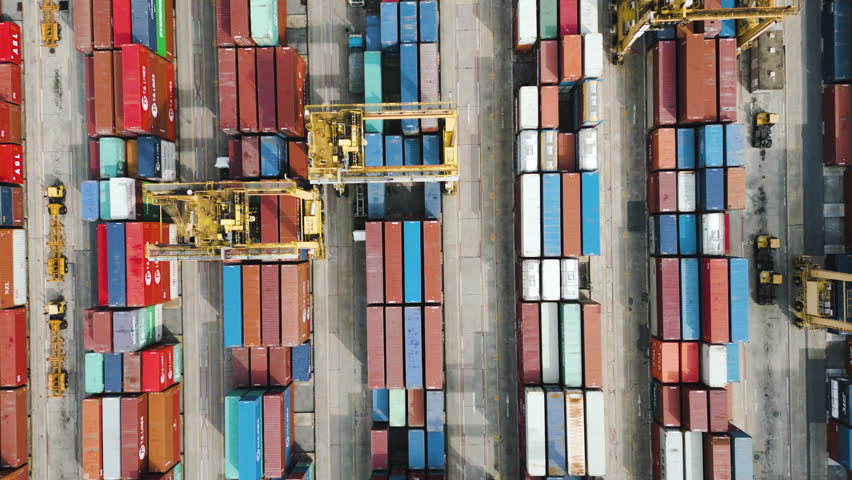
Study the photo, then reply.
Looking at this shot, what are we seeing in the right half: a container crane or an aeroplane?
container crane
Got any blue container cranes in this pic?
No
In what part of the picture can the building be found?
top right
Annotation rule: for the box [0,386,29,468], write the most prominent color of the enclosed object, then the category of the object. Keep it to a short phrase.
red shipping container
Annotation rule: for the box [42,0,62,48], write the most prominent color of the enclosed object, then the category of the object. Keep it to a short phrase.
orange vehicle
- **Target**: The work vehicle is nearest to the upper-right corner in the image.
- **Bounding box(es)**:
[751,111,779,149]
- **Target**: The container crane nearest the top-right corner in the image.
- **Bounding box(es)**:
[607,0,806,65]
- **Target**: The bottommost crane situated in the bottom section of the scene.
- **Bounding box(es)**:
[795,259,852,332]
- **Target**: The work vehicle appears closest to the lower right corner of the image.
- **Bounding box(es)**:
[755,270,783,306]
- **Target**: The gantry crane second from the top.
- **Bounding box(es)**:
[305,101,459,195]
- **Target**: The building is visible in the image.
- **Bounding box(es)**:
[750,28,785,92]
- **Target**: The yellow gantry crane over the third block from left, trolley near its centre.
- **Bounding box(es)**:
[141,180,323,265]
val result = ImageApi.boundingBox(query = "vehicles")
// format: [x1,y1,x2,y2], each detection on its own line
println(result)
[350,183,367,241]
[345,33,365,94]
[42,0,62,48]
[47,185,70,282]
[755,270,783,306]
[214,156,235,187]
[346,0,365,11]
[47,300,71,398]
[751,111,779,149]
[754,234,781,270]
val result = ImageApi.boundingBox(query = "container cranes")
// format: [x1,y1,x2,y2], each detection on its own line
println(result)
[607,0,806,65]
[795,259,852,332]
[305,101,459,195]
[141,180,323,265]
